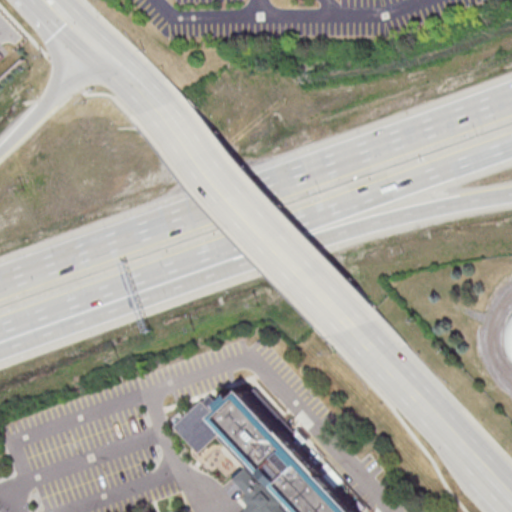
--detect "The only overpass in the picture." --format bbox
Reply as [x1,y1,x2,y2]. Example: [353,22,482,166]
[132,99,383,338]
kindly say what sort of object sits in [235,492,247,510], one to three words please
vehicle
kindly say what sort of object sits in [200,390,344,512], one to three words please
building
